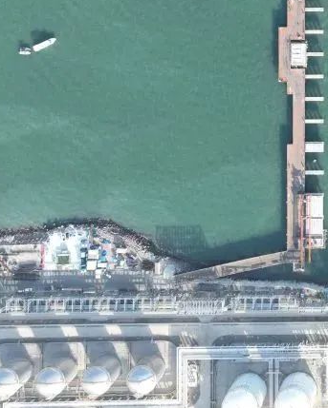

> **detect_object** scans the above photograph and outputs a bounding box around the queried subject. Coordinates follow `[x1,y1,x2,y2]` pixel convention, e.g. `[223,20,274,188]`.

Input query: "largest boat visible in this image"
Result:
[32,37,57,51]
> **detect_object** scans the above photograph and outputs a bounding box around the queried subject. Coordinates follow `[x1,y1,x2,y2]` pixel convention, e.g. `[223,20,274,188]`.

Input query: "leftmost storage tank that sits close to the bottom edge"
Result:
[0,354,34,401]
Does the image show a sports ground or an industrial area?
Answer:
industrial area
